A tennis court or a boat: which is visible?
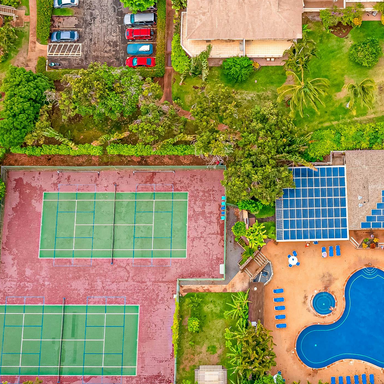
tennis court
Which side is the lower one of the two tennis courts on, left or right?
left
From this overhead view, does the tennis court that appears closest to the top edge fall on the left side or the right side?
left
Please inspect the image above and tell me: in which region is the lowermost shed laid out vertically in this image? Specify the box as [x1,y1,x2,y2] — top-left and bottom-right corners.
[249,282,263,326]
